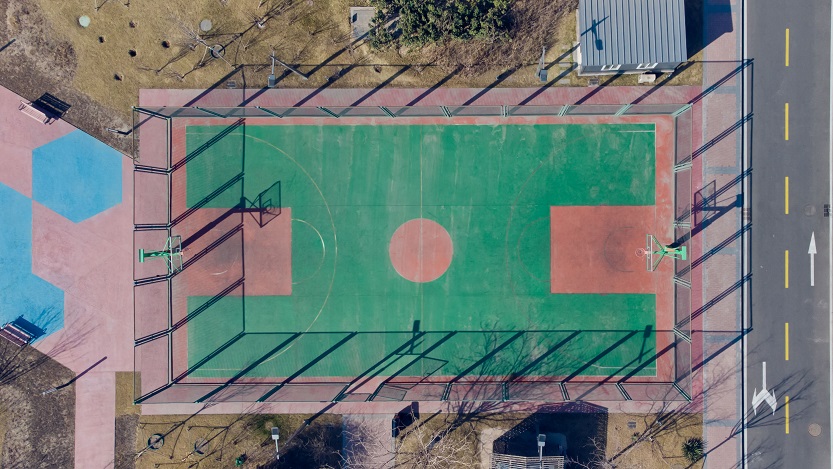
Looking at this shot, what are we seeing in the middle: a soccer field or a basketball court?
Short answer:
basketball court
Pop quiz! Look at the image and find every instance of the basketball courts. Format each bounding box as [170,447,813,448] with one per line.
[171,116,674,384]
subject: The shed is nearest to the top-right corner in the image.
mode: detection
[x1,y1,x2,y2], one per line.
[570,0,688,80]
